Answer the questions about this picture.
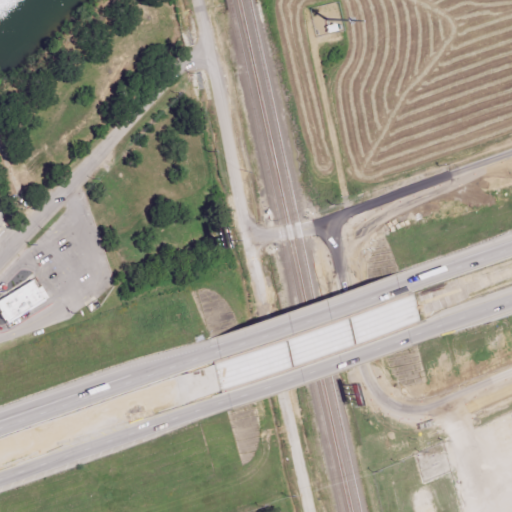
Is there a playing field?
No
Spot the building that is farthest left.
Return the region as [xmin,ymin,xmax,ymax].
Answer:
[0,279,49,326]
